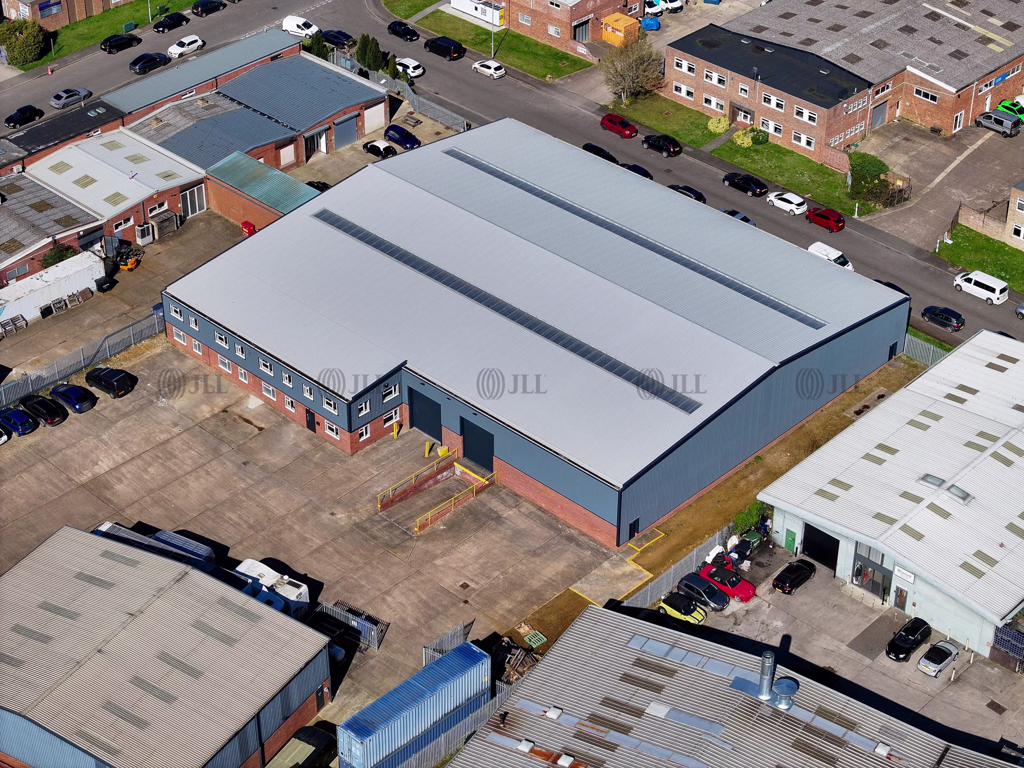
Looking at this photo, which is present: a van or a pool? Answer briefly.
van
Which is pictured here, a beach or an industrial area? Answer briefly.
industrial area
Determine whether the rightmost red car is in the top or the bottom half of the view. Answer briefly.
top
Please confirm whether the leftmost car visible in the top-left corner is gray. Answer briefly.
No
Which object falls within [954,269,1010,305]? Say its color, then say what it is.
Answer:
white van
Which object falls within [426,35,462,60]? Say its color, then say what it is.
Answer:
black vehicle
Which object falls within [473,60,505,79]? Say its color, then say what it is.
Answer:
white car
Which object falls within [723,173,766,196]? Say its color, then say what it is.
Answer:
black car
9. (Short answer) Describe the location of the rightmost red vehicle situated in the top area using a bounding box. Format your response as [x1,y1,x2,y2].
[804,207,848,233]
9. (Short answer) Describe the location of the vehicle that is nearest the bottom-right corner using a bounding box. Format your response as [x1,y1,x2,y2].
[917,642,959,678]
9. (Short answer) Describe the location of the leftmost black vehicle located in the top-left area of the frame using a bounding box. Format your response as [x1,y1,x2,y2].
[4,104,41,128]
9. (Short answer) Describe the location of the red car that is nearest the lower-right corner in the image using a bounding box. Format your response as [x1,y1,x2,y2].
[716,562,759,603]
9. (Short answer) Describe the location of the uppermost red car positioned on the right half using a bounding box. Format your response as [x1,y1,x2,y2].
[600,114,636,138]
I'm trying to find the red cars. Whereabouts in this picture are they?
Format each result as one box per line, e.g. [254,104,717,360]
[716,562,759,603]
[600,114,636,138]
[804,207,848,233]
